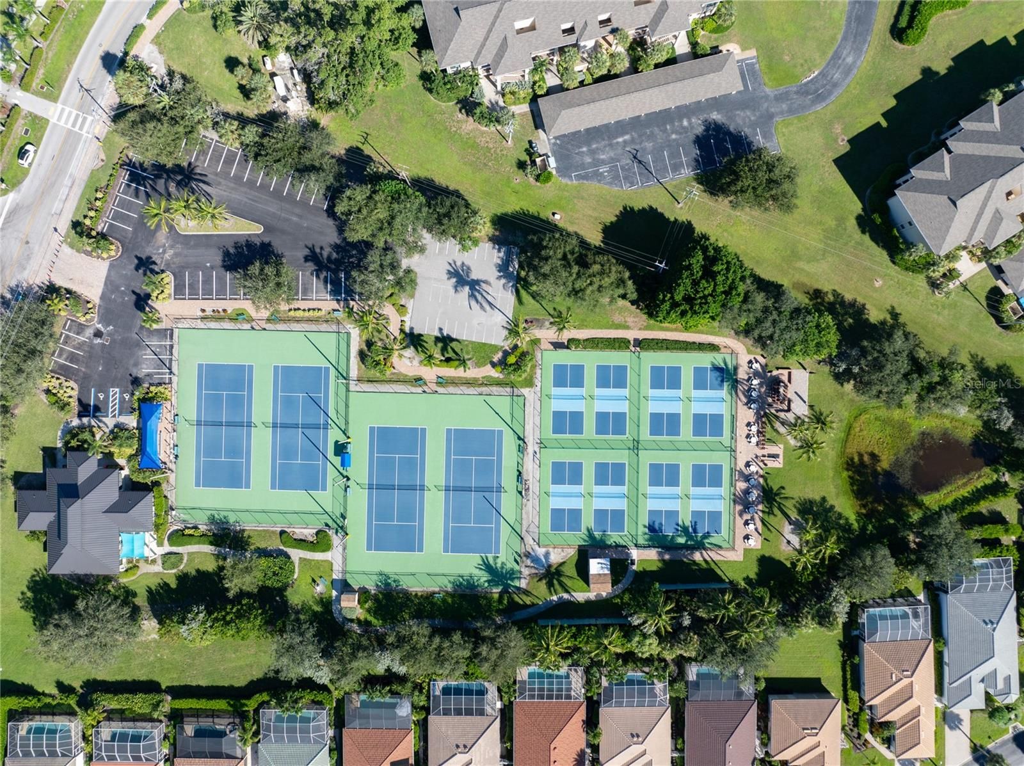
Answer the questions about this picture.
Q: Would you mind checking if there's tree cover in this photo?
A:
Yes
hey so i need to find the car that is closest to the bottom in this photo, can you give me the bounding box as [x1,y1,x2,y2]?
[16,142,35,166]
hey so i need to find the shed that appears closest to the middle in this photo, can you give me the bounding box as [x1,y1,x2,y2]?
[589,556,611,593]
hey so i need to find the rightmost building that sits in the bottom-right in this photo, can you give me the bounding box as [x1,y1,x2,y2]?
[941,590,1020,709]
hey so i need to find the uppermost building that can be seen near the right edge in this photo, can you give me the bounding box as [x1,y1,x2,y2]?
[876,88,1024,259]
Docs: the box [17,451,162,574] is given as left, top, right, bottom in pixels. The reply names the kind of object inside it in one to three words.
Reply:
building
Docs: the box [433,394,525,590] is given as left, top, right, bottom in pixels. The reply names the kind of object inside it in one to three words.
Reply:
tennis court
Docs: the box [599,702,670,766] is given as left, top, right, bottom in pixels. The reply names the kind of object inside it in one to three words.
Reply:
house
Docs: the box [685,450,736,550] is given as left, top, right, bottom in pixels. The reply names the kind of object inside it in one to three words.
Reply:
sports court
